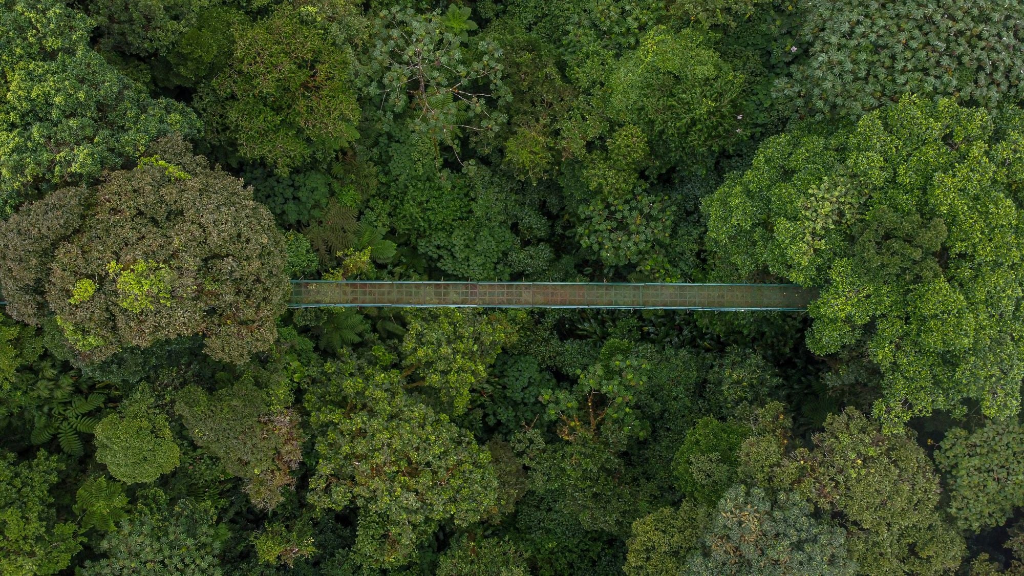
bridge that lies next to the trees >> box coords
[0,274,1004,317]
